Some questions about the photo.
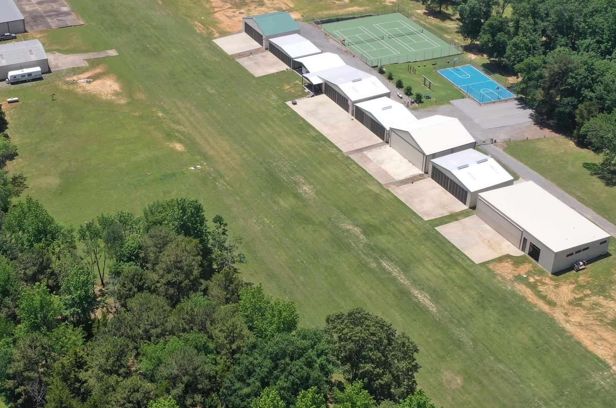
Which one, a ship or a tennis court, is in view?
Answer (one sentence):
Visible in the photo is a tennis court.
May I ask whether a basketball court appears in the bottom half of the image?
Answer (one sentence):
No, looking in the bottom half of the image, there is no basketball court.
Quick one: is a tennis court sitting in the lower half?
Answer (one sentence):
No, no tennis court is visible in the lower half.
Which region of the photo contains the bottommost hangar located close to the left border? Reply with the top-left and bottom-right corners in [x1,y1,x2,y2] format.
[0,38,51,80]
